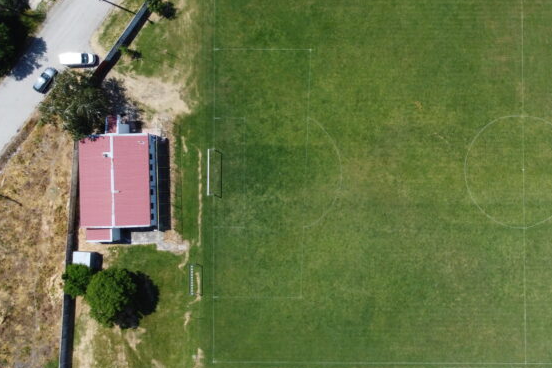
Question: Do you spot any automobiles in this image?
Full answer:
Yes, there is an automobile in the image.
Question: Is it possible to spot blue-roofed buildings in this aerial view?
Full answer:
No, this view has no blue-roofed building in it.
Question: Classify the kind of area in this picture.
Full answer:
It's a sports ground.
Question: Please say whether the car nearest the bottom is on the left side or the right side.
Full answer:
The car nearest the bottom appears in the left half of the scene.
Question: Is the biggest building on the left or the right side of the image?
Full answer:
The biggest building is on the left side of the image.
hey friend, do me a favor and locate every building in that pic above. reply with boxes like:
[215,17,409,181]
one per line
[79,116,158,239]
[73,249,99,267]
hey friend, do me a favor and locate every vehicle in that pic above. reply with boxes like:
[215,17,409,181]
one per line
[55,51,95,66]
[31,68,57,92]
